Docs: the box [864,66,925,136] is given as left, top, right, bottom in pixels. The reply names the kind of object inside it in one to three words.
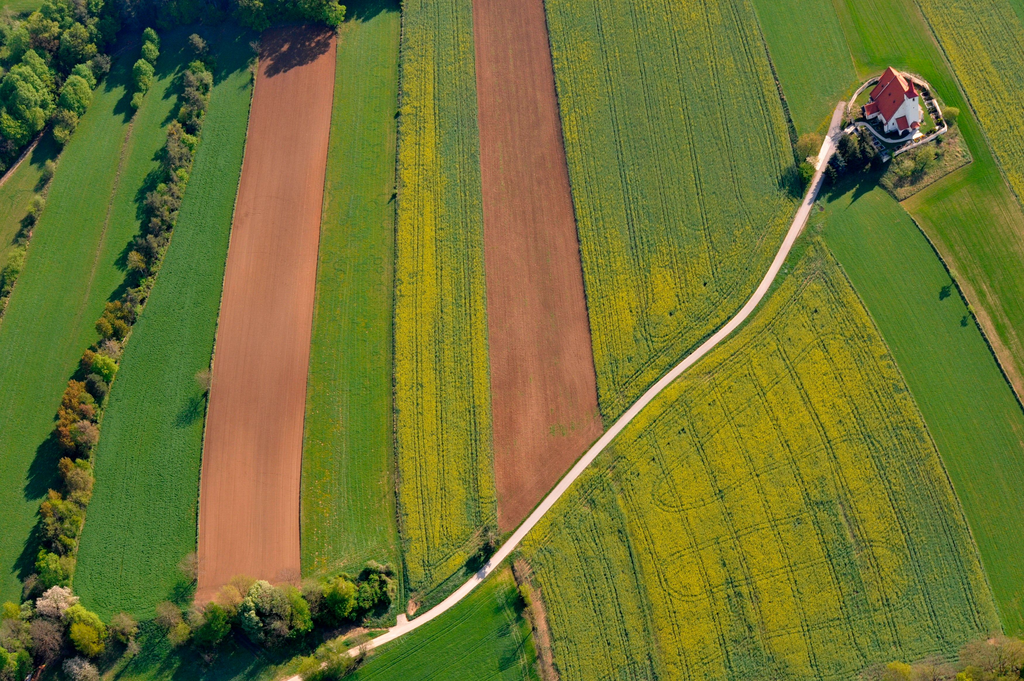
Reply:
building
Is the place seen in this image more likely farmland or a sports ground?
farmland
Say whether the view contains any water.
No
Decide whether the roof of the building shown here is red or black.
red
